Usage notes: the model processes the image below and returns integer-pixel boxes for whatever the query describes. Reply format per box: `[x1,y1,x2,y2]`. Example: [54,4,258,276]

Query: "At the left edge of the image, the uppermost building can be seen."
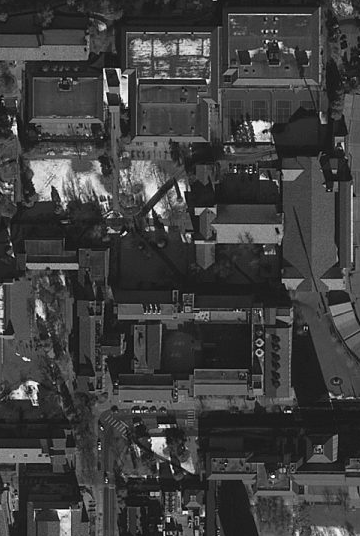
[0,28,89,60]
